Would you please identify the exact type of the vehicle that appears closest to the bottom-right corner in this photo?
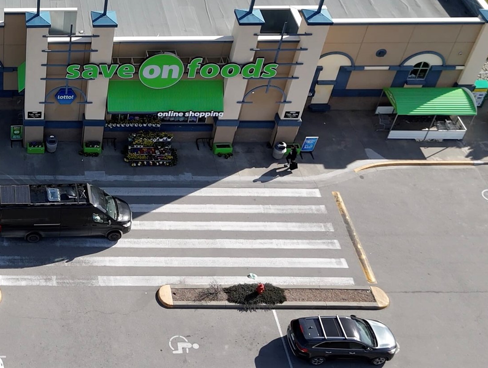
car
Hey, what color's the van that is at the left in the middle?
black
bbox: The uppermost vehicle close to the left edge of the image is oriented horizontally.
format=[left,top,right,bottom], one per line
[0,184,132,241]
